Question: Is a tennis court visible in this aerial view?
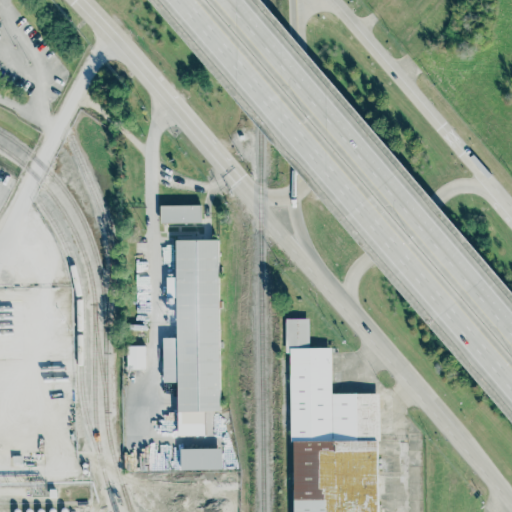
No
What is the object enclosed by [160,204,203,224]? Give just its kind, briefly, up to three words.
building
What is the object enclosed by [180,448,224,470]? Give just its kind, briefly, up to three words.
shed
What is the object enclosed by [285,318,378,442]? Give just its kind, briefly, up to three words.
building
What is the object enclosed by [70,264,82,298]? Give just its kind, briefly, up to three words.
rail car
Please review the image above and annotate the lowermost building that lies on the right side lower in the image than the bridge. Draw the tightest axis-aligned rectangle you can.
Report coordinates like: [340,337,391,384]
[293,442,378,512]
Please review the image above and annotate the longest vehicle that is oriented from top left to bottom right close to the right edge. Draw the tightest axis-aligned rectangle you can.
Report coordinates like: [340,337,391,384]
[464,148,493,176]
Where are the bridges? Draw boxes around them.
[149,0,512,422]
